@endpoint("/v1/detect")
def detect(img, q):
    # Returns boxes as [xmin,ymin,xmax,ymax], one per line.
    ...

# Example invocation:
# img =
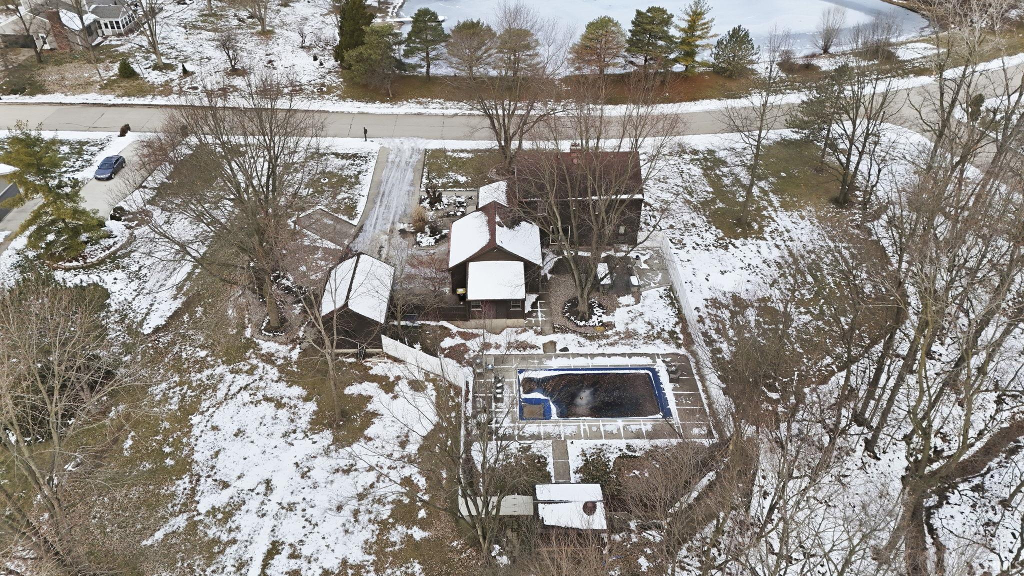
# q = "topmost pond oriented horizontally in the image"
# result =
[372,0,929,77]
